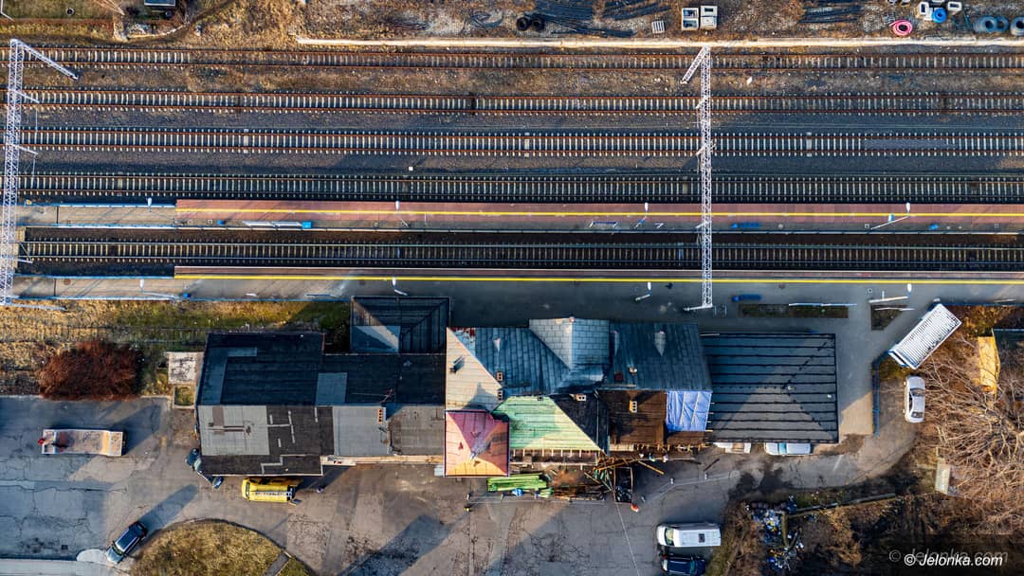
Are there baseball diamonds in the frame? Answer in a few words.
No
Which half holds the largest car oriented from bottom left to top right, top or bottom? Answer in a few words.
bottom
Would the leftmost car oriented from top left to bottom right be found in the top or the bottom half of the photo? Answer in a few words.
bottom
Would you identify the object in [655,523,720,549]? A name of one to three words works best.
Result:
vehicle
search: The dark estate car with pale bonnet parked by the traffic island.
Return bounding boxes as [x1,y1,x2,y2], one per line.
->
[102,523,146,564]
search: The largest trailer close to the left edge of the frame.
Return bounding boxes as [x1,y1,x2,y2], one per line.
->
[35,429,127,455]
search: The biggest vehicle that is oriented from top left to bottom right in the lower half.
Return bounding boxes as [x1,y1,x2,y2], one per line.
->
[185,447,224,489]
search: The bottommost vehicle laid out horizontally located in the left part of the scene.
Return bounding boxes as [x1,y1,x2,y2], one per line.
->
[248,476,303,502]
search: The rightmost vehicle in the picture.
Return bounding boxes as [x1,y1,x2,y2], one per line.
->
[903,375,928,421]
